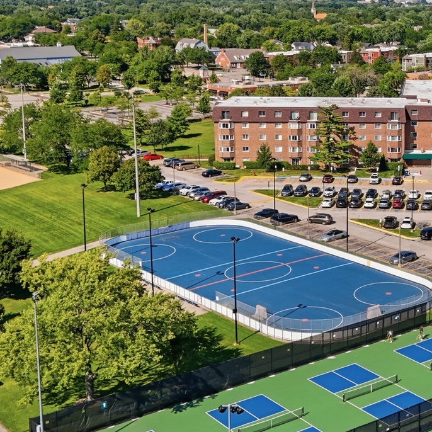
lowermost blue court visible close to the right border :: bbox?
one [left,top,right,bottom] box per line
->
[308,364,428,420]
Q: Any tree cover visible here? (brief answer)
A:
Yes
